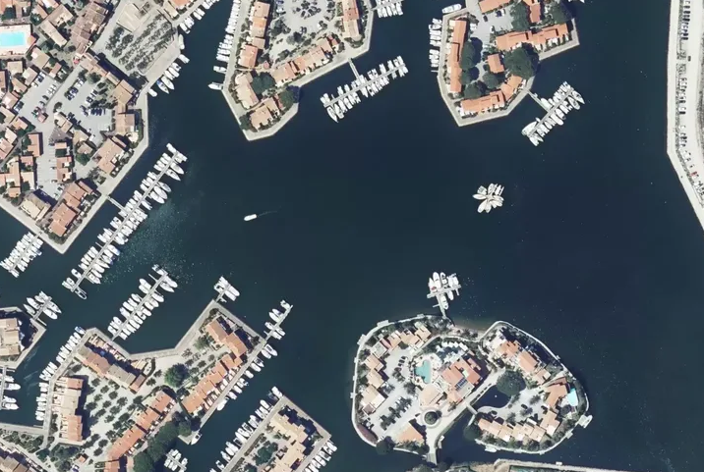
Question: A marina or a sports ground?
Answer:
marina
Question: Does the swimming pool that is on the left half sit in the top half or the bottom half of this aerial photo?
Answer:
top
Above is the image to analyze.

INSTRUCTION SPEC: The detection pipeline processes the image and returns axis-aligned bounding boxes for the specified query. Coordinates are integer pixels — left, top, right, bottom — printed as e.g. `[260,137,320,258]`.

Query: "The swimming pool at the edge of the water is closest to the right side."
[562,388,578,409]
